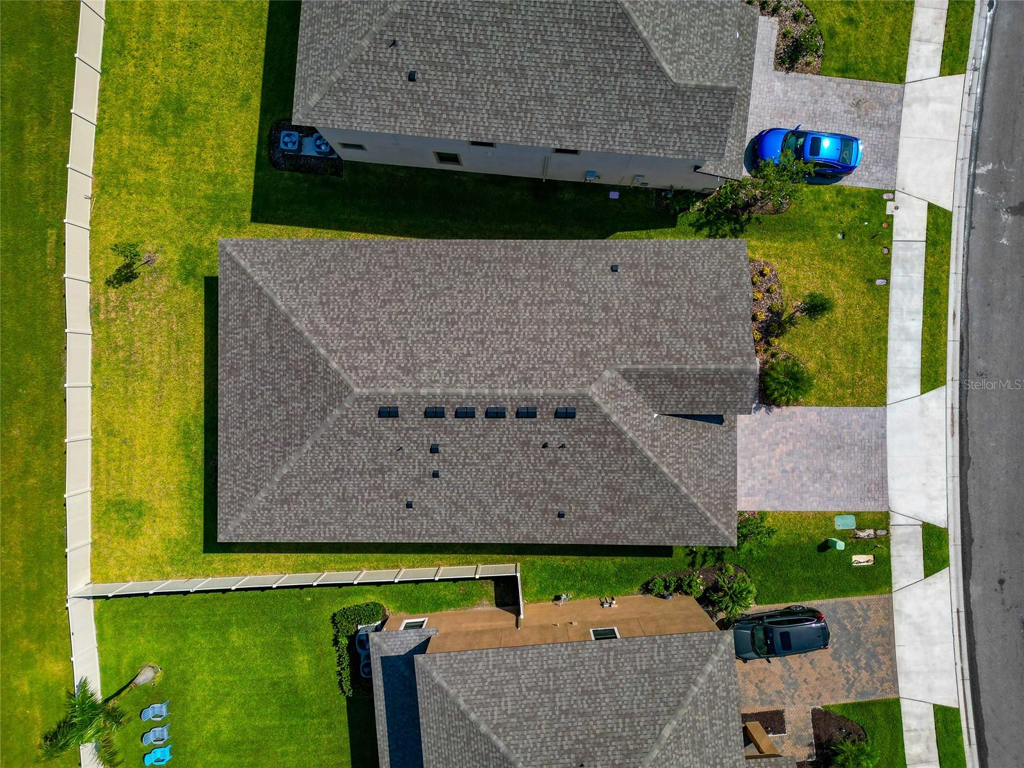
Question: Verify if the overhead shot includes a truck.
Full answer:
No, I can't see a single truck in this photo.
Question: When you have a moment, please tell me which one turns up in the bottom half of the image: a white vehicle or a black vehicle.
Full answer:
There is a black vehicle in the bottom half of the image.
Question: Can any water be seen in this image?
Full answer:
No, there's no water in this view.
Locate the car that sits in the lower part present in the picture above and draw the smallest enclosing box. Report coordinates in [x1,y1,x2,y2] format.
[719,603,830,662]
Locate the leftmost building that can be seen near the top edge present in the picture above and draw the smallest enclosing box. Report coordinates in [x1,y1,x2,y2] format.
[292,0,758,192]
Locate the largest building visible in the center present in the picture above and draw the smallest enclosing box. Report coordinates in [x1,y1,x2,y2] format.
[218,239,760,547]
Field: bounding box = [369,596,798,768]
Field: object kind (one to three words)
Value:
house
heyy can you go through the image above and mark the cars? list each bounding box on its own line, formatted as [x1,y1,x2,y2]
[751,125,862,180]
[719,603,830,662]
